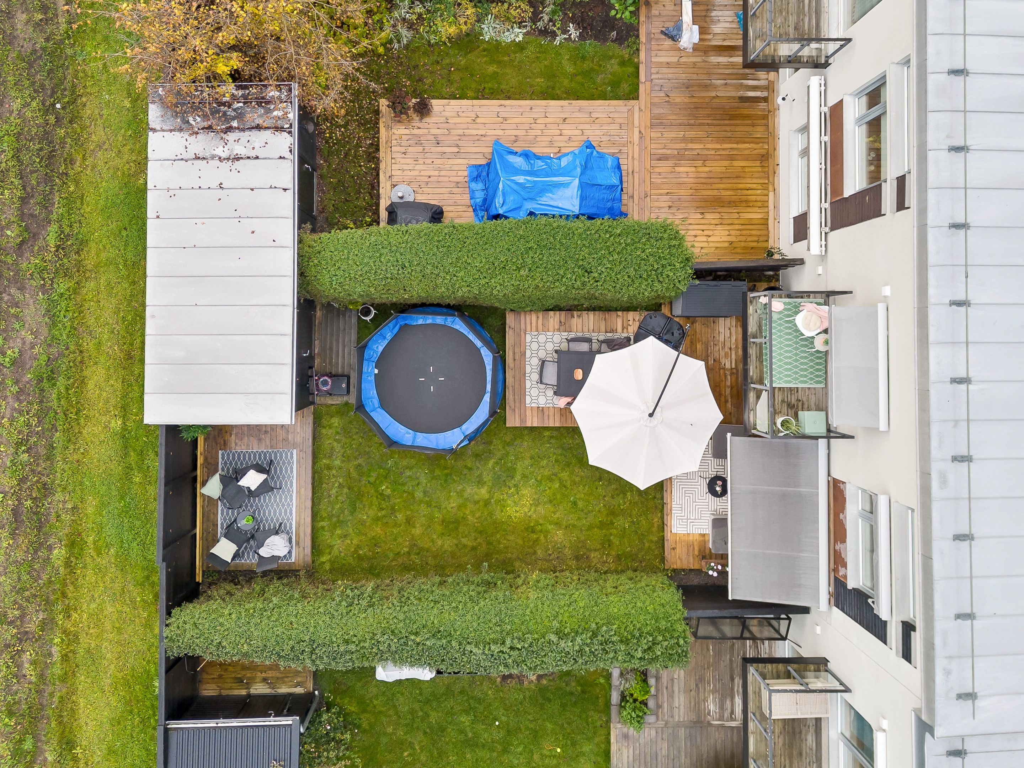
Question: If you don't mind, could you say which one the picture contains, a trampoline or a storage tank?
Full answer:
Visible in the photo is a trampoline.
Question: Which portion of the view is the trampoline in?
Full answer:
You can find the trampoline in the center area of the picture.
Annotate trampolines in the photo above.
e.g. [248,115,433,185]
[349,305,504,461]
